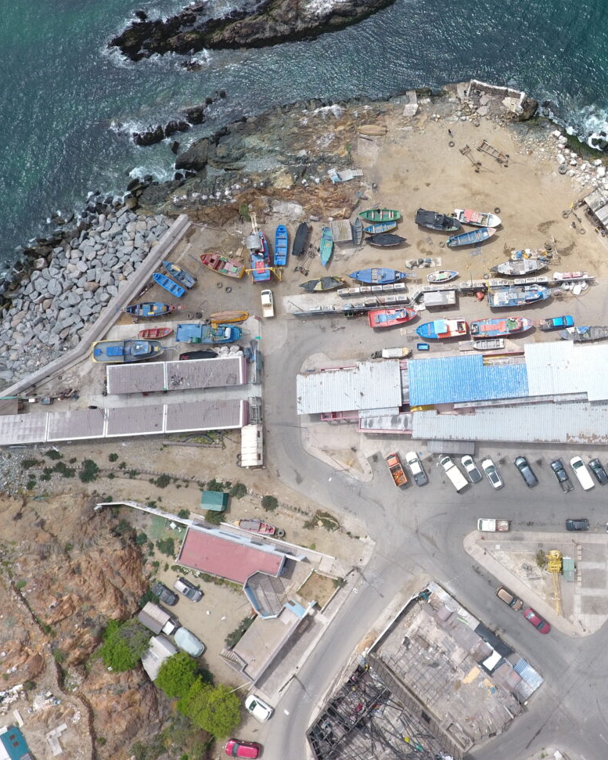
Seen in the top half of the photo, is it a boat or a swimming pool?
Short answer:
boat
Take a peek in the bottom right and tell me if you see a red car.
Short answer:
Yes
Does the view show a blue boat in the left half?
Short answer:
Yes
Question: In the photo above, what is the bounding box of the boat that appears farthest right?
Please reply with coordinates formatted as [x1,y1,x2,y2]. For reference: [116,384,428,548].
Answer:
[560,324,608,342]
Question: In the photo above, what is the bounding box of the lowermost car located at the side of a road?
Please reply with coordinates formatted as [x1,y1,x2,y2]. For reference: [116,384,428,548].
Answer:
[224,739,263,760]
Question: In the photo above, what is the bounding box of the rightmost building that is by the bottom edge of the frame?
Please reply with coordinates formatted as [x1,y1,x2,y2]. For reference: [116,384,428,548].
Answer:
[306,579,543,760]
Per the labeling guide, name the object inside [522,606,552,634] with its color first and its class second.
red car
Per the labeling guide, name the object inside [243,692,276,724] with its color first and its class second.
white car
